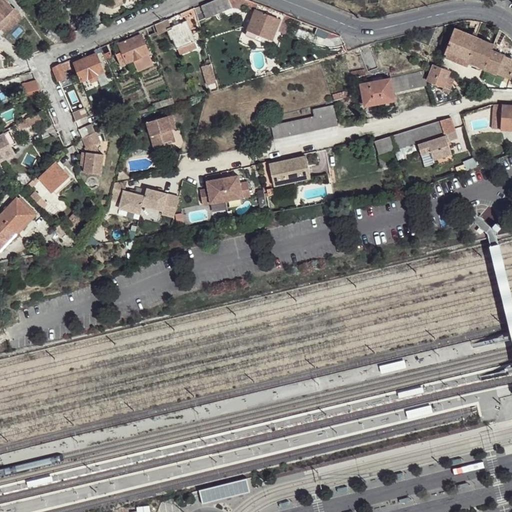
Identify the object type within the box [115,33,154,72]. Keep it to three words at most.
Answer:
house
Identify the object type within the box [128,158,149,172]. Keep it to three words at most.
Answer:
swimming pool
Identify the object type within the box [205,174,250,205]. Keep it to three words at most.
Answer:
house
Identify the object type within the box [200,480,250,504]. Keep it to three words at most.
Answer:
building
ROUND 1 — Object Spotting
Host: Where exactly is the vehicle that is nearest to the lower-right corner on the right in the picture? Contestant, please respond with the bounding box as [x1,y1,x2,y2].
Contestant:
[453,462,486,475]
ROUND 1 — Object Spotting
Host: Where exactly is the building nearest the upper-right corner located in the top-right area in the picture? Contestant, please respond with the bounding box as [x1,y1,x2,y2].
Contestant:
[444,28,512,84]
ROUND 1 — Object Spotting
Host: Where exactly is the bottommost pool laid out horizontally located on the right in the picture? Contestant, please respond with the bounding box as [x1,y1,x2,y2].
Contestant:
[304,186,326,200]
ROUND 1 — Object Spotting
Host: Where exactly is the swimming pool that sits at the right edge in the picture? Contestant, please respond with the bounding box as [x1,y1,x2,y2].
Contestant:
[471,117,490,133]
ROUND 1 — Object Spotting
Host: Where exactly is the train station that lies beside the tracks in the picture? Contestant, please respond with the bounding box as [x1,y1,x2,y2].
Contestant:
[0,332,512,512]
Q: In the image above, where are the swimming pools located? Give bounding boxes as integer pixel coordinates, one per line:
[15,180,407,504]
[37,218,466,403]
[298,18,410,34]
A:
[10,26,25,40]
[66,89,80,105]
[236,200,252,214]
[22,152,36,168]
[188,208,208,222]
[128,158,149,172]
[304,186,326,200]
[0,108,14,124]
[471,117,490,133]
[250,50,266,70]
